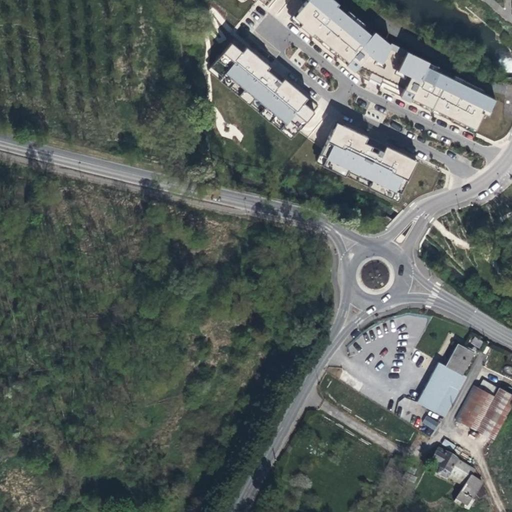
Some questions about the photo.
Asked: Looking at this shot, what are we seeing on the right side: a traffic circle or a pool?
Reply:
traffic circle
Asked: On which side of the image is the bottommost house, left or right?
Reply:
right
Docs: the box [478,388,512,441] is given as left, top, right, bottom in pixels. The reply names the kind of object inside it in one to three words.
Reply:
barn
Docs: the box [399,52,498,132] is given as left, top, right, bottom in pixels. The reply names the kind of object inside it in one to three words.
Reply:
building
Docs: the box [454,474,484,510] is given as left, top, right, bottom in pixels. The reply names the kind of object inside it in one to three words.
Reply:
house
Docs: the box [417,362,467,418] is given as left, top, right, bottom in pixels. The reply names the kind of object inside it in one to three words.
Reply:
building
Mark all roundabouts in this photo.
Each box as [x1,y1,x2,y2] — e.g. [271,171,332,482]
[344,237,414,317]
